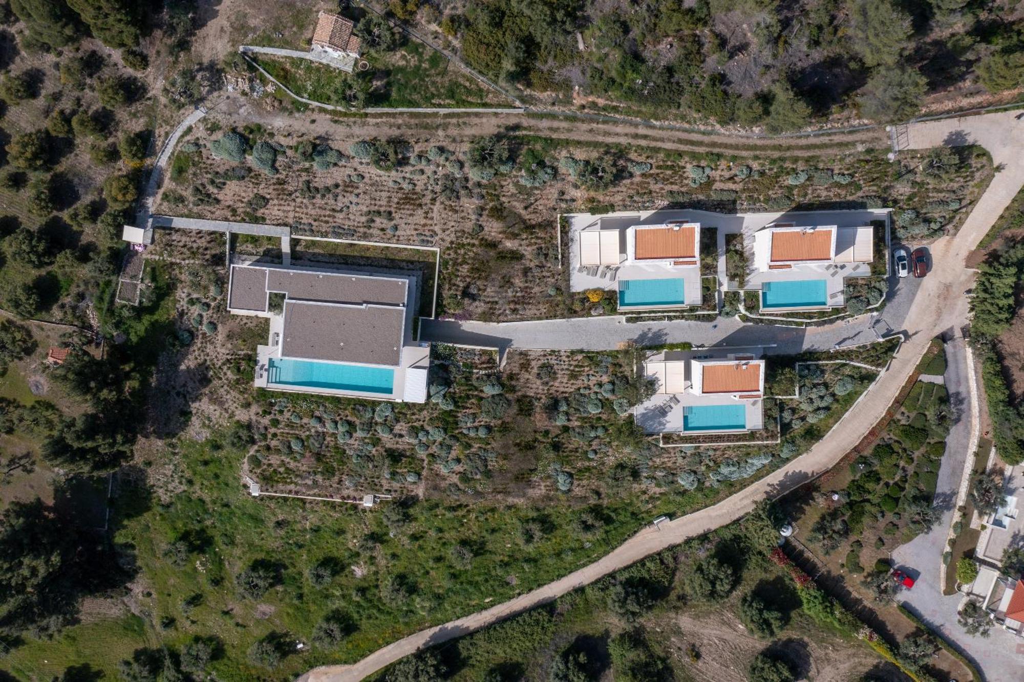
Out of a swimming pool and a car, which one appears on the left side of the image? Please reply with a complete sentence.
Looking on the left side of the image, you will find a swimming pool.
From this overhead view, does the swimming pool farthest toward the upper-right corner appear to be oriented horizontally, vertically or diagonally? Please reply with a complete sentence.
The swimming pool farthest toward the upper-right corner is oriented horizontally.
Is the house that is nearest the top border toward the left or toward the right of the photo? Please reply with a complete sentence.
The house that is nearest the top border sits on the left side.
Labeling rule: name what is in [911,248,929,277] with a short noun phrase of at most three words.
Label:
car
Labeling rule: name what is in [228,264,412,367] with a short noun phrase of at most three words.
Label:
house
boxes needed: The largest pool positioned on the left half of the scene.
[268,358,394,394]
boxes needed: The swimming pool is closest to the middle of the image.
[619,279,683,308]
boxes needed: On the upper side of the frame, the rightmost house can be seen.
[749,222,837,274]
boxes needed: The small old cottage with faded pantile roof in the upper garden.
[313,12,364,61]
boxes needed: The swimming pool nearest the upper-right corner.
[762,280,826,309]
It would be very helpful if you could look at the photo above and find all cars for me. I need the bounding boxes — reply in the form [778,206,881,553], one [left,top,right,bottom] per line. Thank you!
[893,248,911,277]
[911,248,929,277]
[893,569,916,591]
